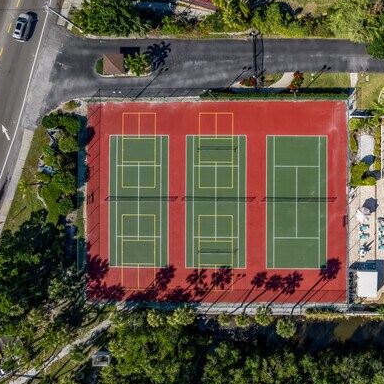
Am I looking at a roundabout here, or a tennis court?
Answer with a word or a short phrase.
tennis court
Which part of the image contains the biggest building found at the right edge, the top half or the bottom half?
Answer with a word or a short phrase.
bottom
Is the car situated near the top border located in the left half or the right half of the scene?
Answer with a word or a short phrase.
left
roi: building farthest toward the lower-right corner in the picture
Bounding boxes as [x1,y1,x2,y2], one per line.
[356,269,378,298]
